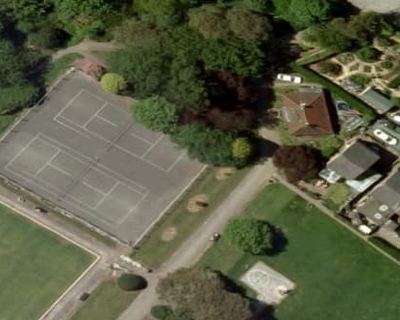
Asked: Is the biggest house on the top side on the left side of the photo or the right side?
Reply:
right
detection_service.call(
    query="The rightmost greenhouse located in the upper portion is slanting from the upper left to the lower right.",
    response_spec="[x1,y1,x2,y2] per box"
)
[360,88,394,114]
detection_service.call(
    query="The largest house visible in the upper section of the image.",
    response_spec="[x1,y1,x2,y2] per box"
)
[281,88,336,136]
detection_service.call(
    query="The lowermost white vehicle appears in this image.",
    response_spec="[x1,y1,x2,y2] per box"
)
[374,128,398,145]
